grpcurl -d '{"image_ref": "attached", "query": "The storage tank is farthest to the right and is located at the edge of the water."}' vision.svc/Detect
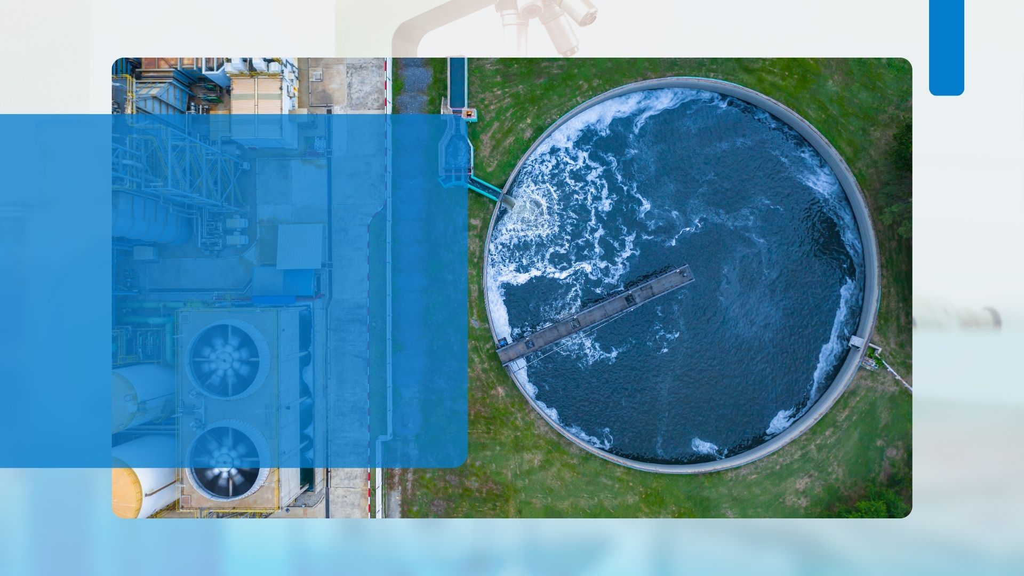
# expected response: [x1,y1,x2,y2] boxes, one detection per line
[483,77,880,474]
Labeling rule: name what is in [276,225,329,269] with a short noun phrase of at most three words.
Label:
shed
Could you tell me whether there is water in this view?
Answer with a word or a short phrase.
Yes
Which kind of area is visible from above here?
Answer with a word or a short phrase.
industrial area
